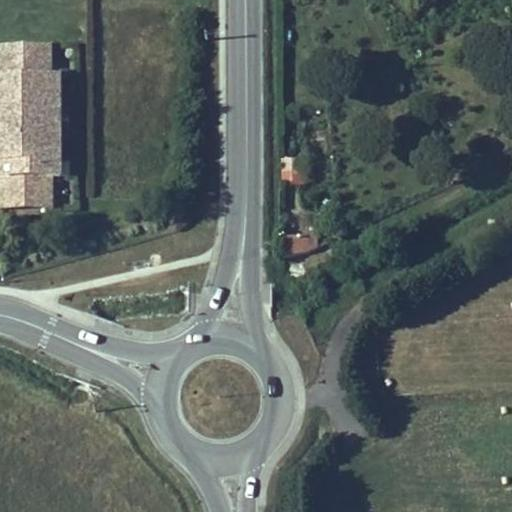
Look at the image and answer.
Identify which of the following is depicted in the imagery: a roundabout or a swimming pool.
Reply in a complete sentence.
The image shows a roundabout.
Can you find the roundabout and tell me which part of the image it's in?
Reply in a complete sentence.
The roundabout sits in the bottom section of the image.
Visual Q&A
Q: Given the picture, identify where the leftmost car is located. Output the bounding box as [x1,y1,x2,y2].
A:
[79,331,102,346]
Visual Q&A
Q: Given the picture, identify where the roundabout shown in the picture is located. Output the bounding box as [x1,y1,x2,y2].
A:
[140,312,296,479]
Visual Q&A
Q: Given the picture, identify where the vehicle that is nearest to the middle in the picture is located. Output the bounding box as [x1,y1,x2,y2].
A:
[210,286,225,308]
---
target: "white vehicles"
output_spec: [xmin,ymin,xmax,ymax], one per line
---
[246,476,256,498]
[186,334,204,344]
[210,286,225,308]
[79,331,102,346]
